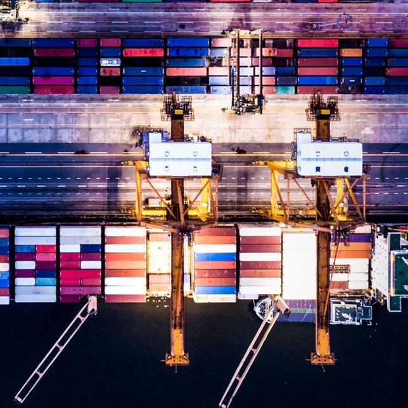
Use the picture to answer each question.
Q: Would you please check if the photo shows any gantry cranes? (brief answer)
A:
Yes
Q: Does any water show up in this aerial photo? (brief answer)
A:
Yes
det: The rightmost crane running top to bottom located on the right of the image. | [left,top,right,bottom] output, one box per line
[254,85,373,378]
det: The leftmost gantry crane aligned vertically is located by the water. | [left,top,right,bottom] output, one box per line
[123,85,225,378]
